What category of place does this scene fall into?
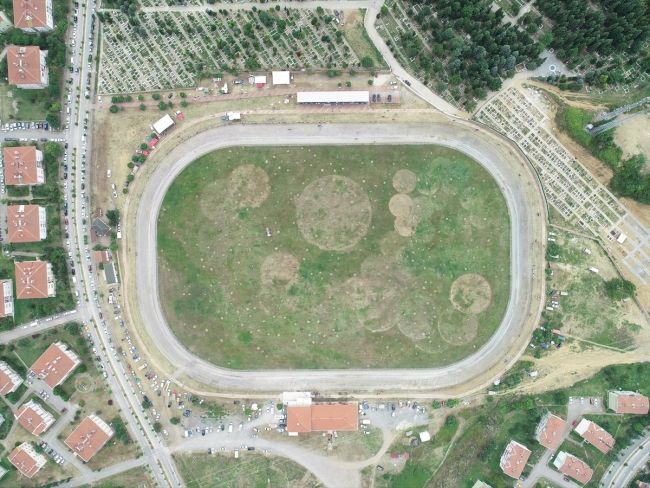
sports ground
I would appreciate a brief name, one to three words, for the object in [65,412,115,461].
building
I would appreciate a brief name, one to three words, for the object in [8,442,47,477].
building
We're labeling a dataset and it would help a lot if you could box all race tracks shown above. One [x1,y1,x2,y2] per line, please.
[126,112,542,395]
